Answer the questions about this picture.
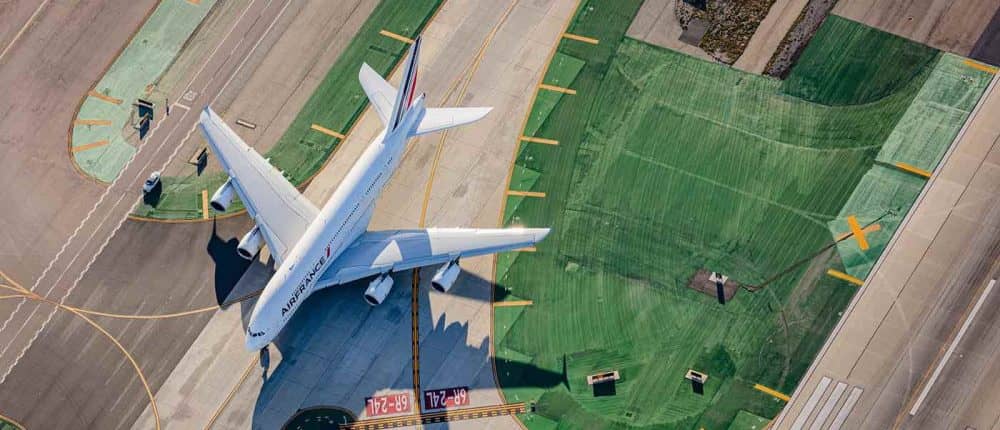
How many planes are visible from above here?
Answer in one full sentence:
My tally gives 1 plane in this photo.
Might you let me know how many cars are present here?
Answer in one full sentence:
In total, there is 1 car in the scene.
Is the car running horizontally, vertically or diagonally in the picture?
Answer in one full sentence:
Seen from above, the car lies diagonally.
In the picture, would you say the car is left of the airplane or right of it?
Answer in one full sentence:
It is on the left side of the airplane that the car is positioned.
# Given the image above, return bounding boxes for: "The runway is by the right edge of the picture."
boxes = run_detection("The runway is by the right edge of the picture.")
[753,60,1000,430]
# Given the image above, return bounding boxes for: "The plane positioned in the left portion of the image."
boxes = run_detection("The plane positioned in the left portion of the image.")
[199,39,552,351]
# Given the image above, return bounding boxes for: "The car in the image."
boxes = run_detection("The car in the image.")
[141,173,161,194]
